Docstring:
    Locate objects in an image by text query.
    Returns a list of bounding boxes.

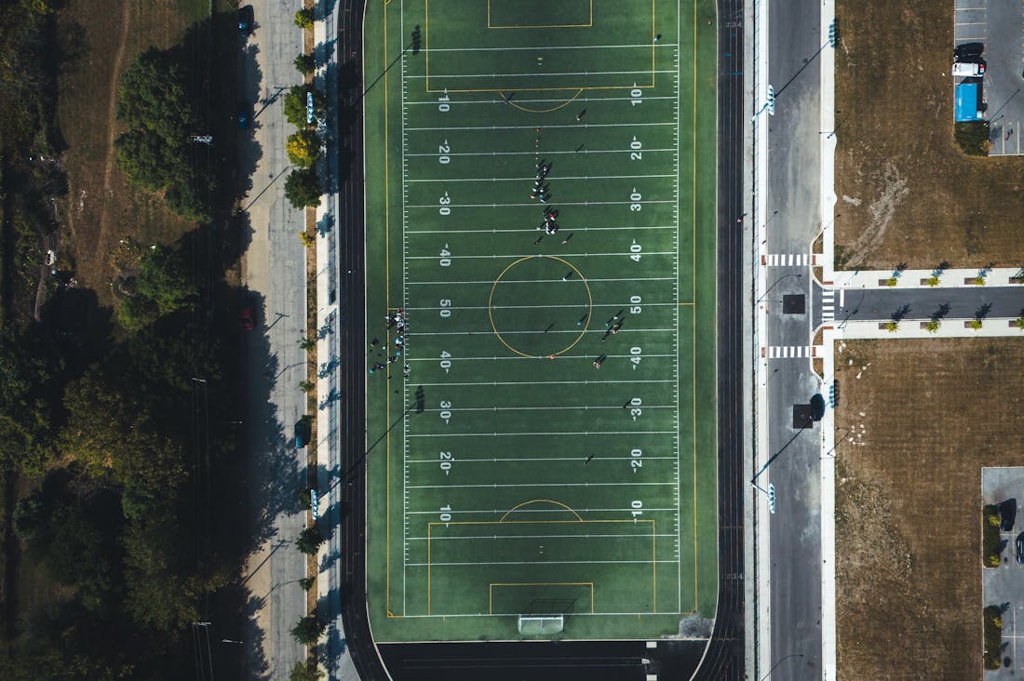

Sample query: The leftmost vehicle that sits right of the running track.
[810,397,823,423]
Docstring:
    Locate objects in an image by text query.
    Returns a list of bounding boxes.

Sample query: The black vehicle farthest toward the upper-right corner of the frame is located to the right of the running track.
[955,47,983,60]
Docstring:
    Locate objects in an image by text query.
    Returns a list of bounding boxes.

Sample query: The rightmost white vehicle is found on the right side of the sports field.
[950,64,985,78]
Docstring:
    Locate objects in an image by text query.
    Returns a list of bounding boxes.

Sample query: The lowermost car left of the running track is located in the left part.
[295,421,307,447]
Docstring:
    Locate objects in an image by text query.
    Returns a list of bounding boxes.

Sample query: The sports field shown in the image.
[365,0,716,644]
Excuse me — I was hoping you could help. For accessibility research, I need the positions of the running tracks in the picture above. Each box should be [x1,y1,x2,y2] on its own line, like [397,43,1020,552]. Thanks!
[337,0,744,681]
